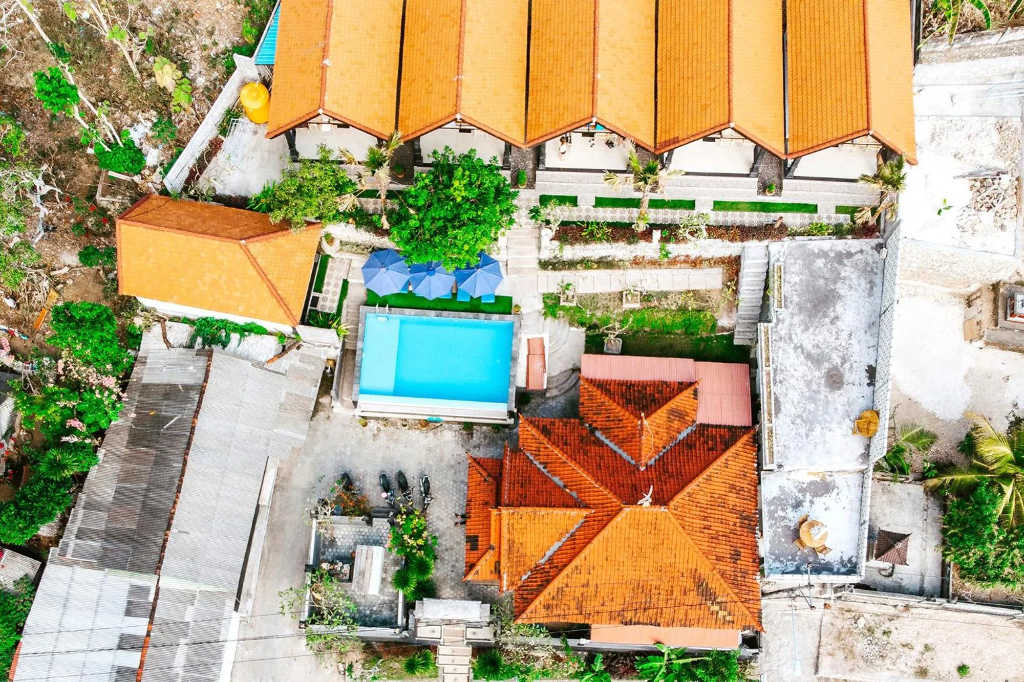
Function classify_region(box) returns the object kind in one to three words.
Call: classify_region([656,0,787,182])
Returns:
house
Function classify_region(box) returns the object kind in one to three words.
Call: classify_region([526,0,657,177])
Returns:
house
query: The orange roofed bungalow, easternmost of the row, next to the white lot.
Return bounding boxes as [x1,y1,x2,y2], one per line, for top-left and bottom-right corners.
[783,0,919,188]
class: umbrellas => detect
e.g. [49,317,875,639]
[410,256,457,299]
[455,251,503,295]
[362,249,410,296]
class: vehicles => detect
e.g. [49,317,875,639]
[378,471,395,509]
[396,468,412,508]
[415,472,432,512]
[339,471,353,500]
